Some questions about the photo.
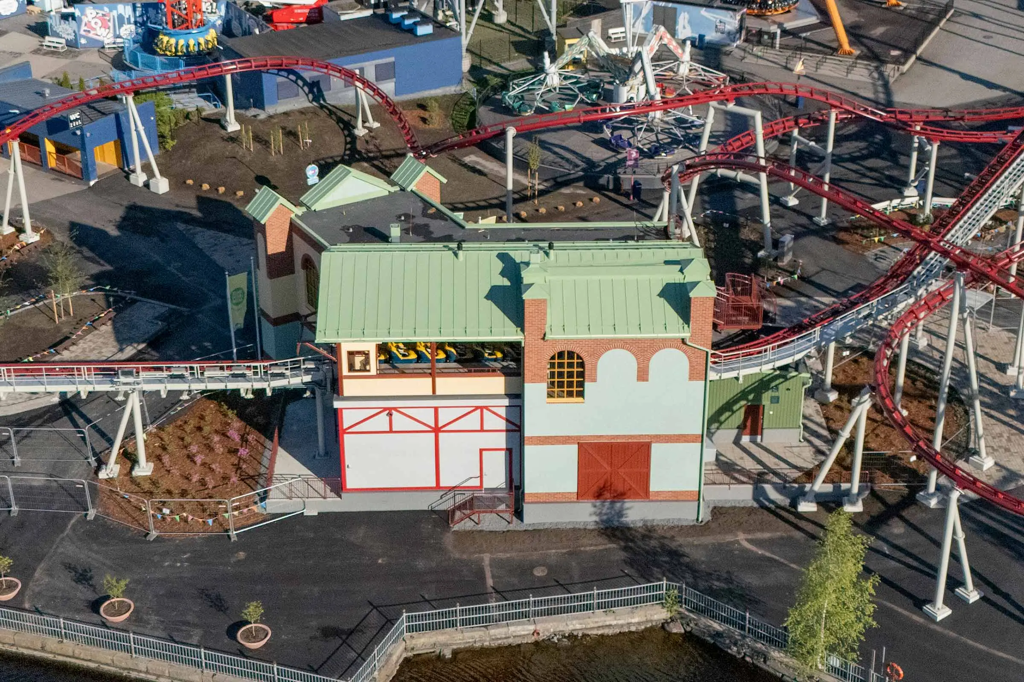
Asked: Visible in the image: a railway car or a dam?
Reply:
railway car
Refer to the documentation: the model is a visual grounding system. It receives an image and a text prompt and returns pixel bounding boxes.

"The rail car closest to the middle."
[479,342,514,366]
